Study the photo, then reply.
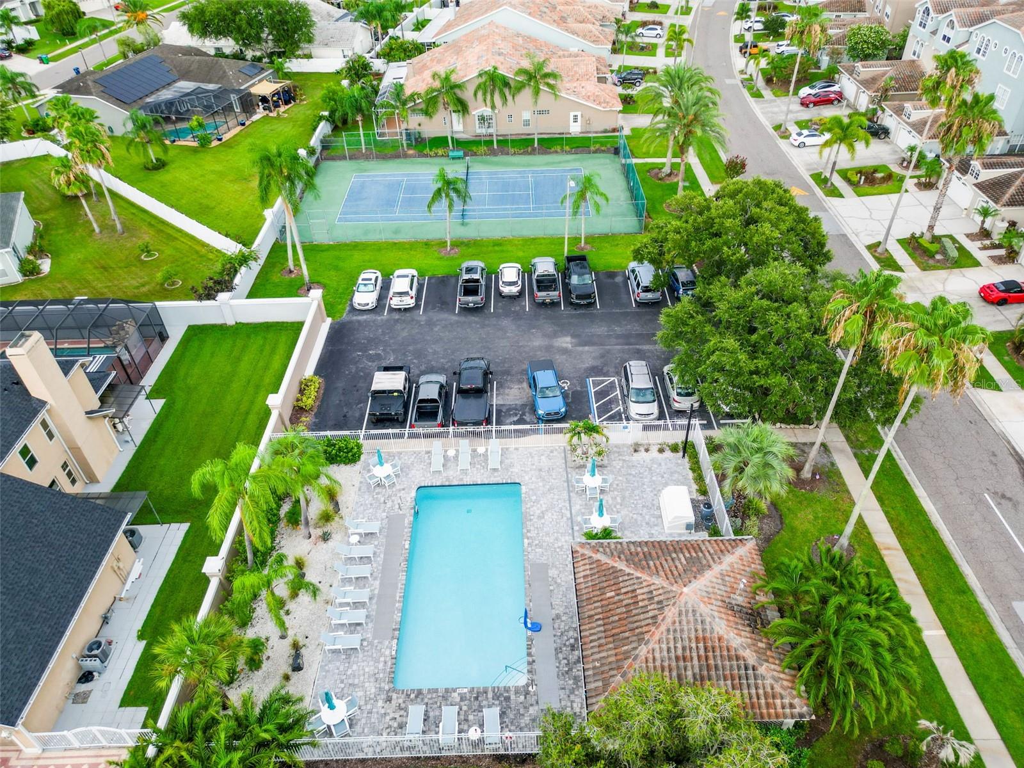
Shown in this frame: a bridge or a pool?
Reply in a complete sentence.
Visible in the photo is a pool.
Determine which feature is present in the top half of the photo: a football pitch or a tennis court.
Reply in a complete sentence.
It is a tennis court that can be seen in the top half of the photo.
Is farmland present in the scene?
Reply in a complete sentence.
No, the scene doesn't show any farmland.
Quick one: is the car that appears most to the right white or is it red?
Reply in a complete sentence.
The color of the car that appears most to the right is red.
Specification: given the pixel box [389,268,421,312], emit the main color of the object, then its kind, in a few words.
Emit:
white car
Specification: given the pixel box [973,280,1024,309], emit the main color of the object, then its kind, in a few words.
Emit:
red car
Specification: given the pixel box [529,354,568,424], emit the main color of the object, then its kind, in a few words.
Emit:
blue truck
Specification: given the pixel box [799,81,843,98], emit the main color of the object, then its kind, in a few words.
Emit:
white car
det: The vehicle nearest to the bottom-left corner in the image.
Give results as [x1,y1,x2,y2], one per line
[405,369,447,437]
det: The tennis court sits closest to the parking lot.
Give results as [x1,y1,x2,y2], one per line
[301,153,643,242]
